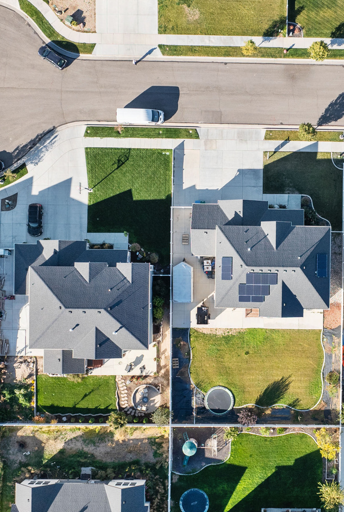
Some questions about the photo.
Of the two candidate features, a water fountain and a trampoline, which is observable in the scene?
trampoline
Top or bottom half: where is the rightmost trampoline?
bottom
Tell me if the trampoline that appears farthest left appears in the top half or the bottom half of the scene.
bottom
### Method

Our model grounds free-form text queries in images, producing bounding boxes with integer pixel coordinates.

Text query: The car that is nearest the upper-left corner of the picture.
[36,44,71,70]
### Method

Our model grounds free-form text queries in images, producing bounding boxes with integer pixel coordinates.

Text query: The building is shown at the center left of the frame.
[10,239,155,376]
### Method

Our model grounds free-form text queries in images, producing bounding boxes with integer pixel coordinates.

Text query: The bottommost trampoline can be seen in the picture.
[179,487,209,512]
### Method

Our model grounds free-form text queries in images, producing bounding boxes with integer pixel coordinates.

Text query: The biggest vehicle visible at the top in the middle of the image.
[115,106,164,126]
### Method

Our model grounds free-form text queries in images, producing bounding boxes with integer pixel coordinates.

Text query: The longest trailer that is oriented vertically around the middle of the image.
[174,253,194,302]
